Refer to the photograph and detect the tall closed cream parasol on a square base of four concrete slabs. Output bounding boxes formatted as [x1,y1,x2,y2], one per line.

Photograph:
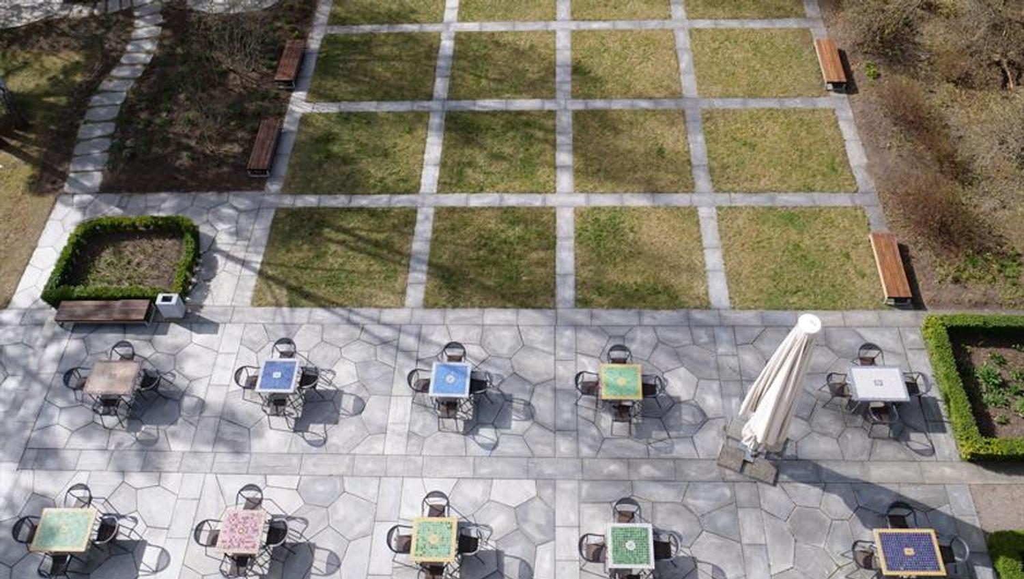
[716,315,823,493]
